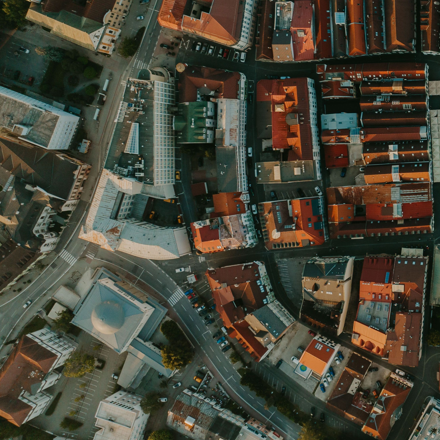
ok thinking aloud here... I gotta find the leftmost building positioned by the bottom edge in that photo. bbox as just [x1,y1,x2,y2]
[0,329,76,427]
